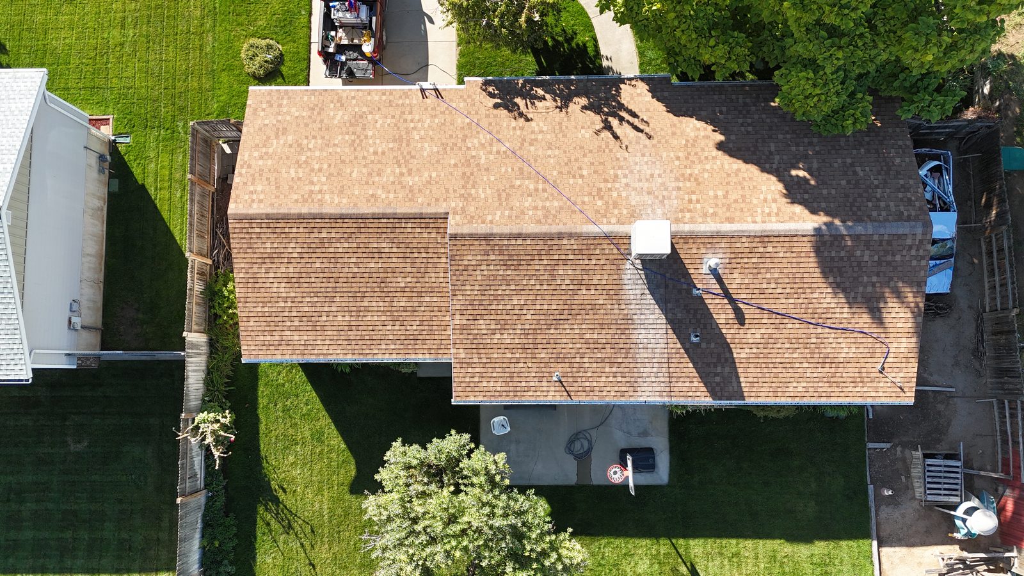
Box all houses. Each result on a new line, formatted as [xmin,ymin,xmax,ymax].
[0,65,118,387]
[228,71,932,409]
